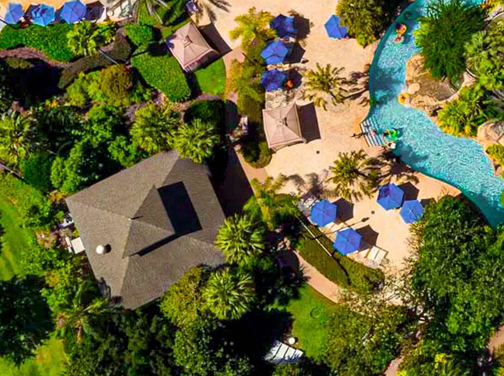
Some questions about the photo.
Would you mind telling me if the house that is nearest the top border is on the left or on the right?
left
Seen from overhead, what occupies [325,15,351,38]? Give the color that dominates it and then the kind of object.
blue umbrella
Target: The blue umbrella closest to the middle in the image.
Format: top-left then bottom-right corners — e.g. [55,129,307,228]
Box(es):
[310,200,338,225]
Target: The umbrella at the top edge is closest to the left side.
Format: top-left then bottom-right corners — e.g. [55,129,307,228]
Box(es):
[5,4,30,25]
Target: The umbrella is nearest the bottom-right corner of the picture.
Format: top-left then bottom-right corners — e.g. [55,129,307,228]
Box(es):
[400,200,423,224]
